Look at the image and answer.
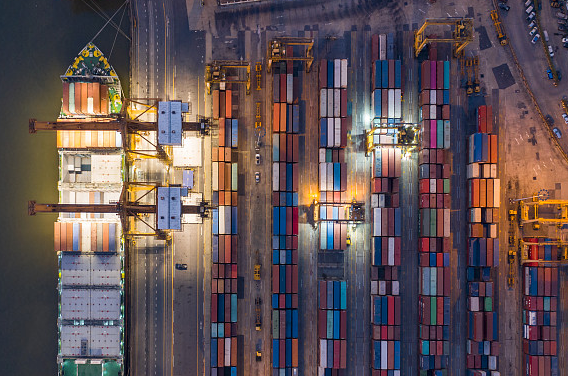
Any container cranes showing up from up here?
Yes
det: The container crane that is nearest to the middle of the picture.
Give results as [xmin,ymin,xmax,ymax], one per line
[314,196,370,231]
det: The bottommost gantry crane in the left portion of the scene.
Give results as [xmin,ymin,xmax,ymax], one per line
[27,182,210,239]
